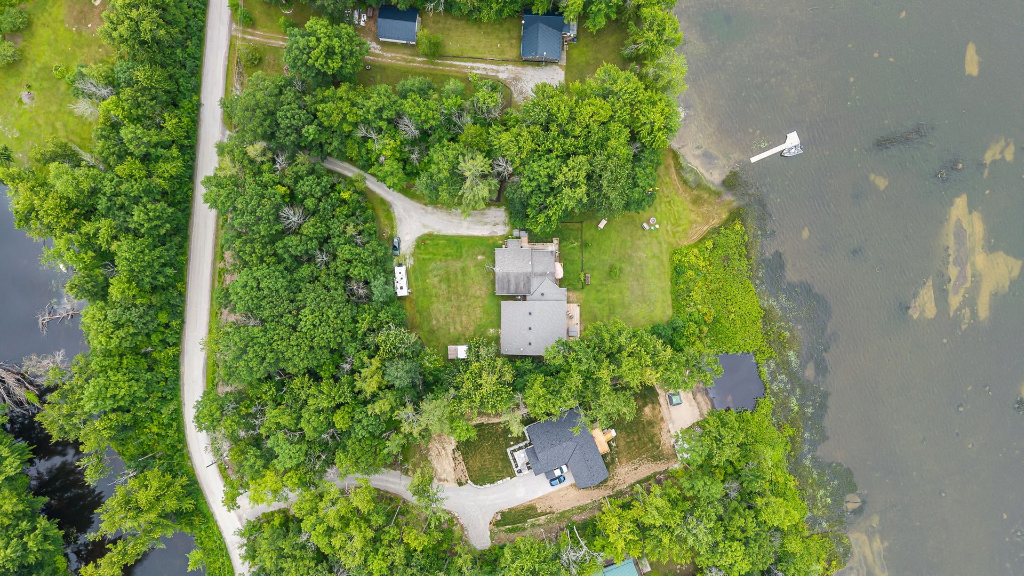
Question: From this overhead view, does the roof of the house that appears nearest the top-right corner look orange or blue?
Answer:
blue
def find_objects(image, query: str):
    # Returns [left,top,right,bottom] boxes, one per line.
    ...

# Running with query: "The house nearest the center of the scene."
[485,237,580,356]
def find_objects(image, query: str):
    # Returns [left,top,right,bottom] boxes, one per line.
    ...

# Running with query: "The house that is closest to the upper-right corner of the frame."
[522,7,578,61]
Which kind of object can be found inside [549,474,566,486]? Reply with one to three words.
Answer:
vehicle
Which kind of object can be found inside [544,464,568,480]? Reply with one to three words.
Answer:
vehicle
